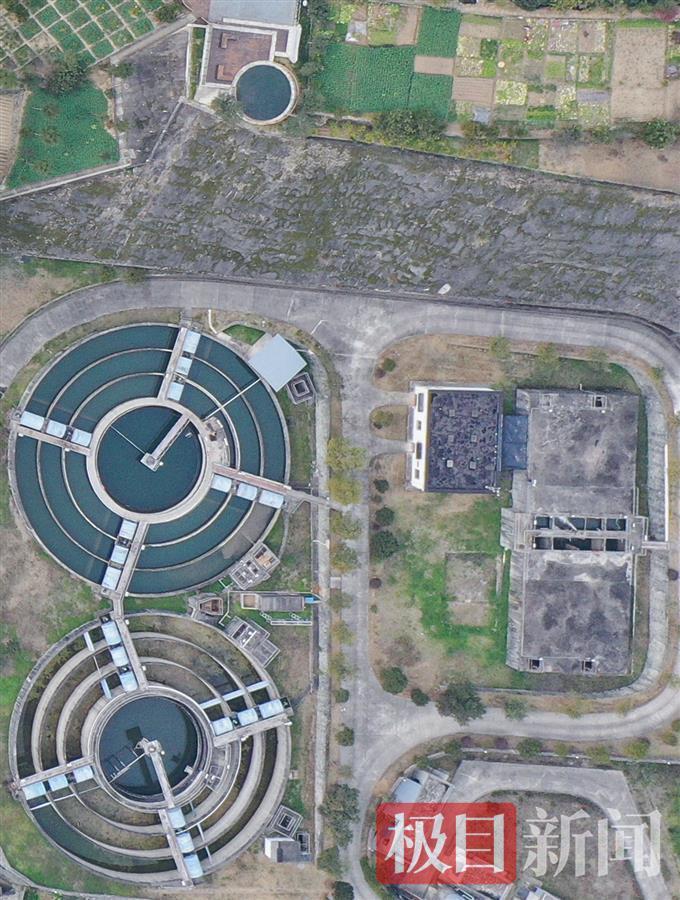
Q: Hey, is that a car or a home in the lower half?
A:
home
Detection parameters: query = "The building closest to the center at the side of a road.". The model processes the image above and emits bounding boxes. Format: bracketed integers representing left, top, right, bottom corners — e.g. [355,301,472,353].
[405,381,503,496]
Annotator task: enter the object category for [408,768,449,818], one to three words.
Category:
house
